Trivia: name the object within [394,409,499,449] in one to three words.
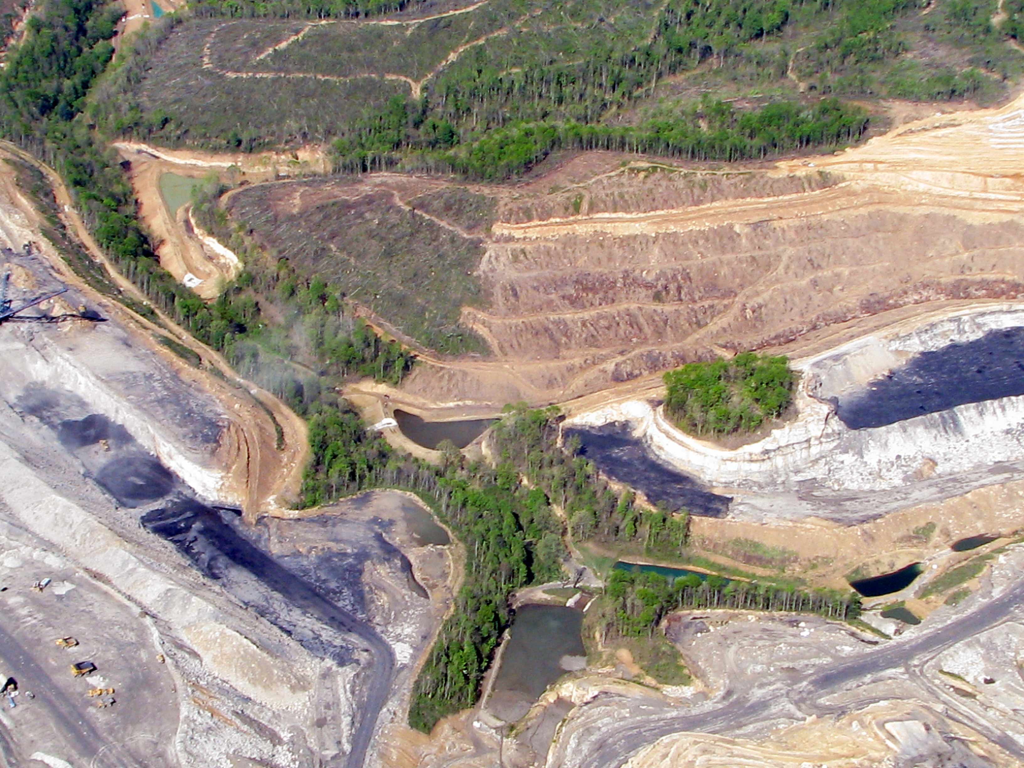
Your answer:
pond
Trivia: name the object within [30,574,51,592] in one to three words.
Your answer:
vehicle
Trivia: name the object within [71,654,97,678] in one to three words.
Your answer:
truck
